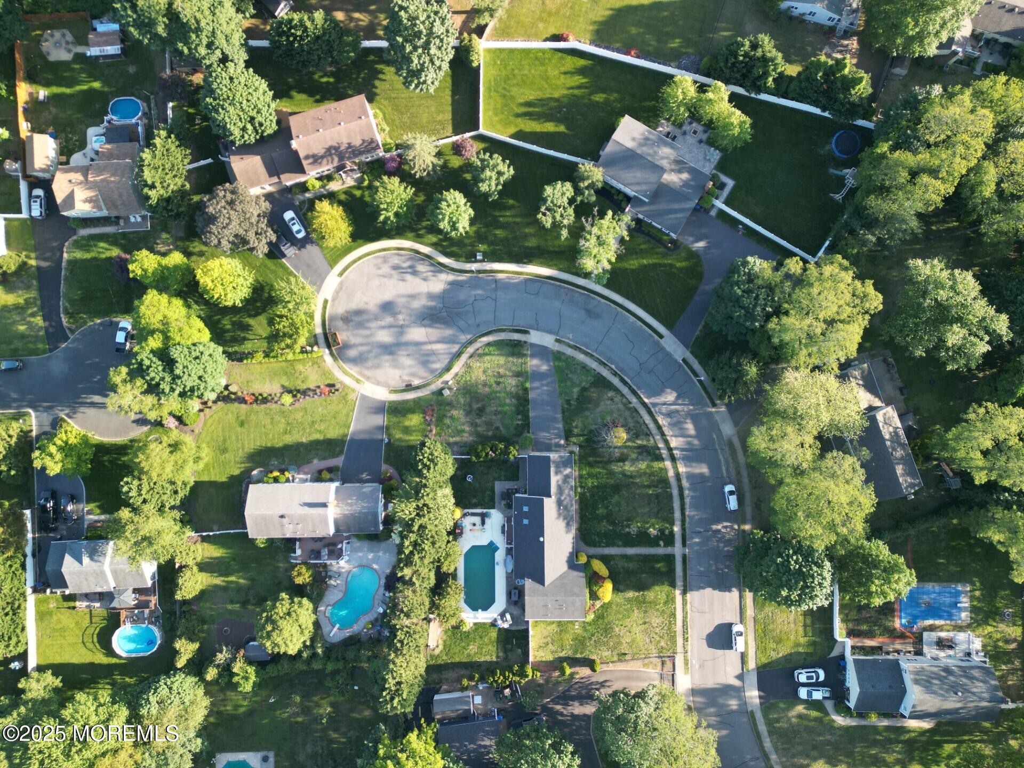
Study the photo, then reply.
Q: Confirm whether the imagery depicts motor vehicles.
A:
Yes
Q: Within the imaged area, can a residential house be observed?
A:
Yes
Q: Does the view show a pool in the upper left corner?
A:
Yes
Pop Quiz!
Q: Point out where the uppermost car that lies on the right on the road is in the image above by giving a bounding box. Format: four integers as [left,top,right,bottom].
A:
[722,483,739,512]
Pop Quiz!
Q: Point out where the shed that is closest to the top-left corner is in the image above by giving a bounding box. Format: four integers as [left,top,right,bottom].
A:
[86,31,127,62]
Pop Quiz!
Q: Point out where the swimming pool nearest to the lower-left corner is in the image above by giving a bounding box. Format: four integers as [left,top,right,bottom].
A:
[113,622,164,657]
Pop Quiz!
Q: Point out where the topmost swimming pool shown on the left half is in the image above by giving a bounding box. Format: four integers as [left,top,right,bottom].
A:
[107,96,147,123]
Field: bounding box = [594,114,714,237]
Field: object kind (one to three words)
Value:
house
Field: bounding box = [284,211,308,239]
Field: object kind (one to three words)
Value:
car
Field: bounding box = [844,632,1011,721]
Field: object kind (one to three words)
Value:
house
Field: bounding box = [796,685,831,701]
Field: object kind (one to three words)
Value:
vehicle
